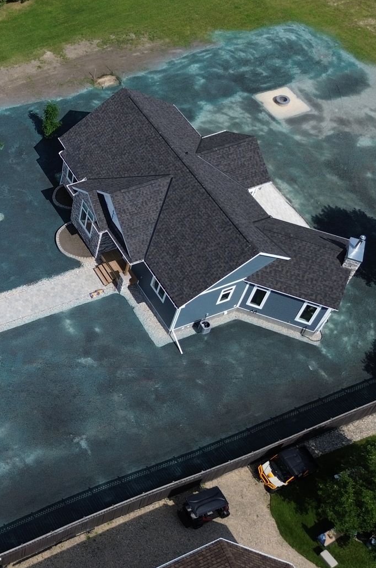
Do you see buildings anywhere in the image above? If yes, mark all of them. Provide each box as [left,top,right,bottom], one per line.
[59,85,368,356]
[164,543,282,568]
